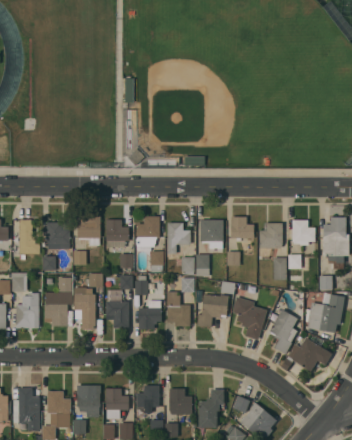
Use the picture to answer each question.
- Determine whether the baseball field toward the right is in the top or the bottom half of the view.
top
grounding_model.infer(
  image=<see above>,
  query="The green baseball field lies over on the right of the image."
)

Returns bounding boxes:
[124,0,352,167]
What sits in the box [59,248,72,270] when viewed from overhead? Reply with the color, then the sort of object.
blue swimming pool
